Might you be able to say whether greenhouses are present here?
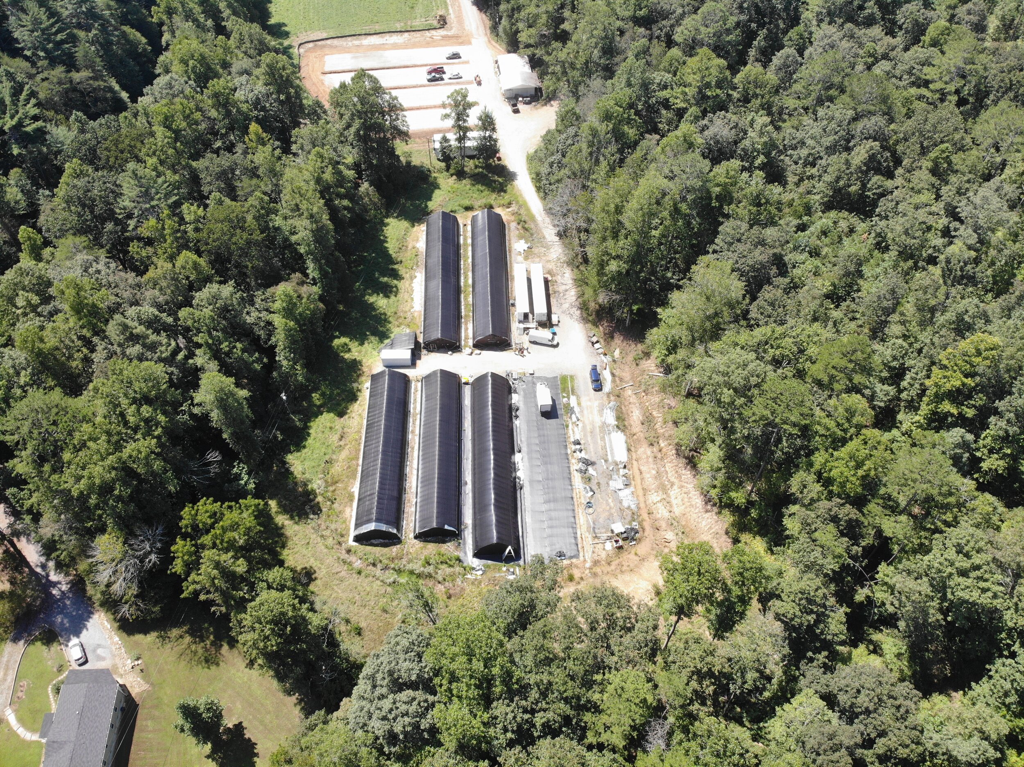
Yes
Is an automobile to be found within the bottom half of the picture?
Yes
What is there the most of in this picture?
trees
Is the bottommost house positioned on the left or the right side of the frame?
left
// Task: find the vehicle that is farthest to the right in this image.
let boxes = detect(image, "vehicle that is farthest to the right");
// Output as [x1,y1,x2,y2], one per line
[588,362,605,391]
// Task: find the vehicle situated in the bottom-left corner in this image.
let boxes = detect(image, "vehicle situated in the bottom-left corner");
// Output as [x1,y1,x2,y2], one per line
[63,634,85,668]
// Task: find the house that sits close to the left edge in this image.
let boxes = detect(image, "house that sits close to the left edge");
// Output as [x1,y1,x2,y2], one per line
[34,670,128,767]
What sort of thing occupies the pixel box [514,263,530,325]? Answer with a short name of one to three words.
trailer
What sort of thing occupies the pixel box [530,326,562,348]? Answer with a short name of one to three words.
vehicle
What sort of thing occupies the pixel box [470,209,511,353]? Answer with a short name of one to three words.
greenhouse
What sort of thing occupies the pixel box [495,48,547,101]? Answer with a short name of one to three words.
building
